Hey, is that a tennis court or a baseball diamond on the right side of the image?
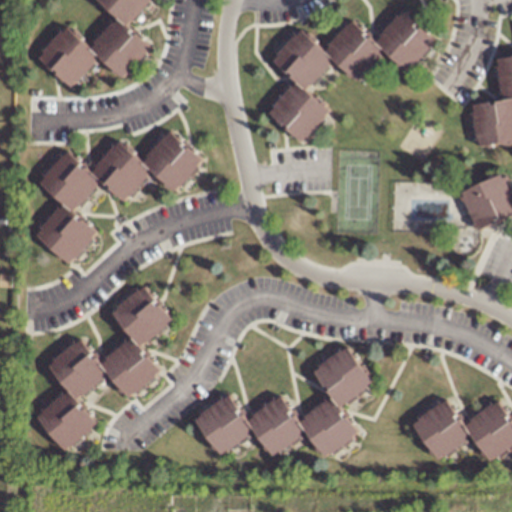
tennis court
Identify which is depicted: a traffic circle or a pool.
pool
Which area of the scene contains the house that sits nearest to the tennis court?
top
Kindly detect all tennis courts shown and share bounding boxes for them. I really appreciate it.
[339,150,380,234]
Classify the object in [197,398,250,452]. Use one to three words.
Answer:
house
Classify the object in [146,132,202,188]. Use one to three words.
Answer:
house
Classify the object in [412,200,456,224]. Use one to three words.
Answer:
swimming pool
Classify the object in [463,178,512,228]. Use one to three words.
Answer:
building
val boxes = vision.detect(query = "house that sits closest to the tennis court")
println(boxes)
[270,83,329,141]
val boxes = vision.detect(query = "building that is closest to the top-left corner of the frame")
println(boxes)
[40,29,98,88]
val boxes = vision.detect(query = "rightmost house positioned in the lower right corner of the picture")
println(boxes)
[466,404,512,460]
